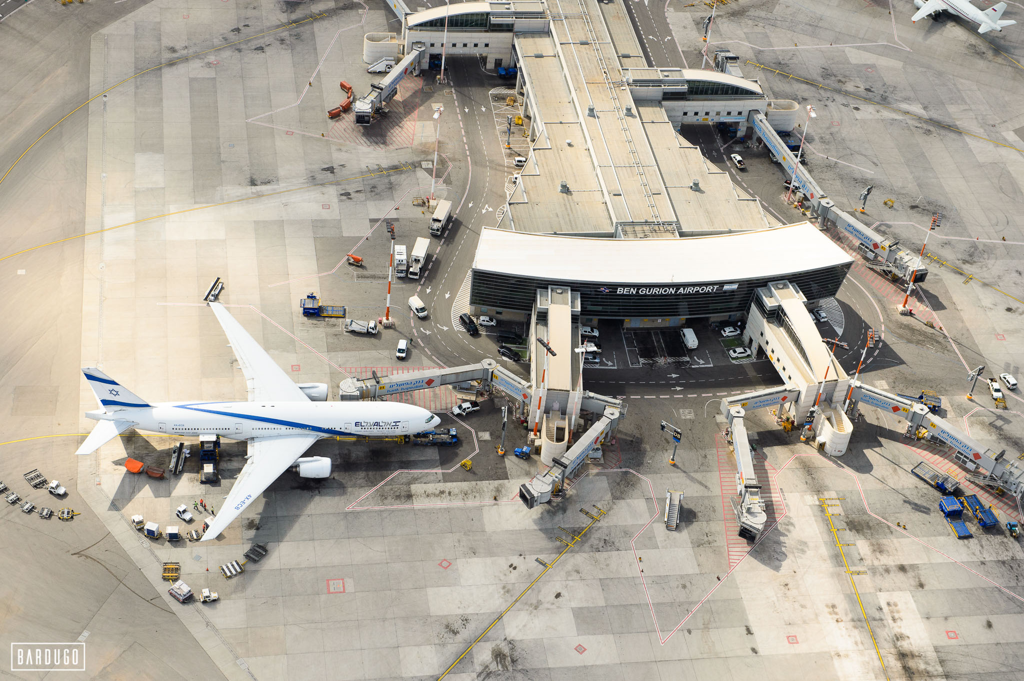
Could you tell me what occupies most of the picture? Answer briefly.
paved ground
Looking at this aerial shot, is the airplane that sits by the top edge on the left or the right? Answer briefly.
right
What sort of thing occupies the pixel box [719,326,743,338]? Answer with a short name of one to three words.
vehicle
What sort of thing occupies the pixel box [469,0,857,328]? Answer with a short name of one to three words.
building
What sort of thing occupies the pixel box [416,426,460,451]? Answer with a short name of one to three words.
work vehicle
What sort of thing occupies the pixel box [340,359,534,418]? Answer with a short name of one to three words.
jet bridge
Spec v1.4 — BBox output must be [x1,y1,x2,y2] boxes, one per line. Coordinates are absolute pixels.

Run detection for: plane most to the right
[915,0,1015,34]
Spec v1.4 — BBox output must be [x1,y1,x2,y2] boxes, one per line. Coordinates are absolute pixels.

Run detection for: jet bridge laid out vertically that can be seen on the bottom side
[723,384,805,543]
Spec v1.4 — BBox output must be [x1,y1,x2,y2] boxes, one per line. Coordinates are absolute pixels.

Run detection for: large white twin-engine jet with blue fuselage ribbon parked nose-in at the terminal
[77,302,439,541]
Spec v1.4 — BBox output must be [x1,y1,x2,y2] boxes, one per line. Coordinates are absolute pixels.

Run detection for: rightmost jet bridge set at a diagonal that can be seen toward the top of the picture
[743,116,927,286]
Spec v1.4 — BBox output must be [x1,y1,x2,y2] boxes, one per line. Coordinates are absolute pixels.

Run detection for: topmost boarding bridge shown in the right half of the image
[701,48,744,78]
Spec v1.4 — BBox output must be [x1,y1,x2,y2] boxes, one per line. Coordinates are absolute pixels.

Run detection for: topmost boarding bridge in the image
[380,0,409,38]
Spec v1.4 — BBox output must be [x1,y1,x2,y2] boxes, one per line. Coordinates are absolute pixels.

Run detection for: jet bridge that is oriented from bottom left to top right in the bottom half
[518,395,622,511]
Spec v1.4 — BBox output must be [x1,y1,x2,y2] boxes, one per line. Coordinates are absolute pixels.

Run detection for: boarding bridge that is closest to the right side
[847,382,1024,504]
